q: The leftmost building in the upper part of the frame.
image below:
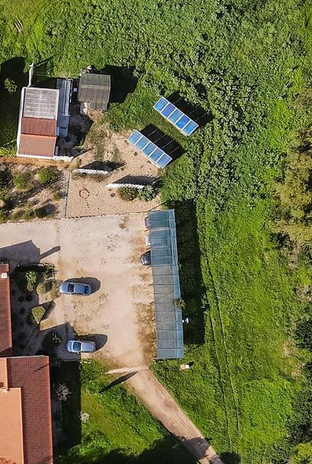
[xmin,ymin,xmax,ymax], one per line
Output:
[14,87,60,160]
